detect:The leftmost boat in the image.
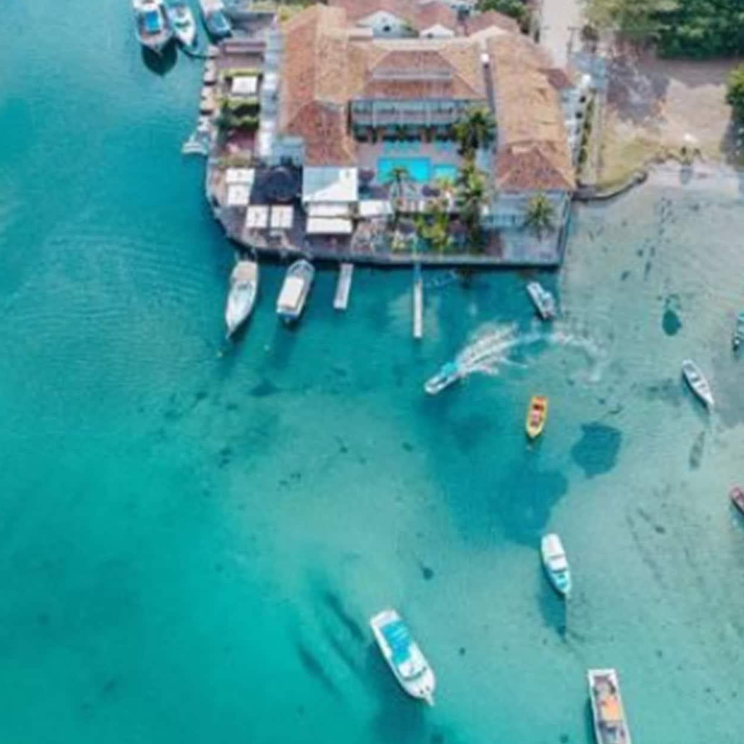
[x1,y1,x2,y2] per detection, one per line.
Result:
[129,0,169,59]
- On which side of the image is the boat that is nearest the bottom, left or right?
right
